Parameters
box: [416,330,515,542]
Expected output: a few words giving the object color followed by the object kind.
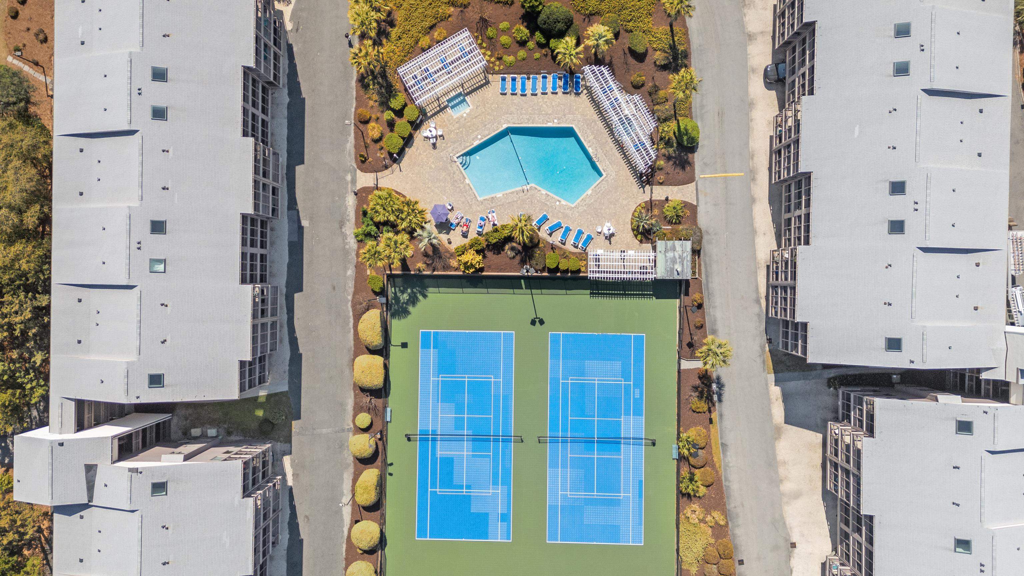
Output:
blue tennis court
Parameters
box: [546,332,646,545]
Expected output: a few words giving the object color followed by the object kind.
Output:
blue tennis court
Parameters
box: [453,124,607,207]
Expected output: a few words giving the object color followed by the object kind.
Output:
blue swimming pool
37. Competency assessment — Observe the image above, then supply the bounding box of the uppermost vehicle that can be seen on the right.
[763,62,785,83]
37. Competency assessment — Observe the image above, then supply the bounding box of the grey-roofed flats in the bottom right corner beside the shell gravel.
[826,378,1024,576]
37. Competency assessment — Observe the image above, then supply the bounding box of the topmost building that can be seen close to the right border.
[769,0,1024,400]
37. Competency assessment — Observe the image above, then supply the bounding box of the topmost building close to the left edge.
[50,0,283,436]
